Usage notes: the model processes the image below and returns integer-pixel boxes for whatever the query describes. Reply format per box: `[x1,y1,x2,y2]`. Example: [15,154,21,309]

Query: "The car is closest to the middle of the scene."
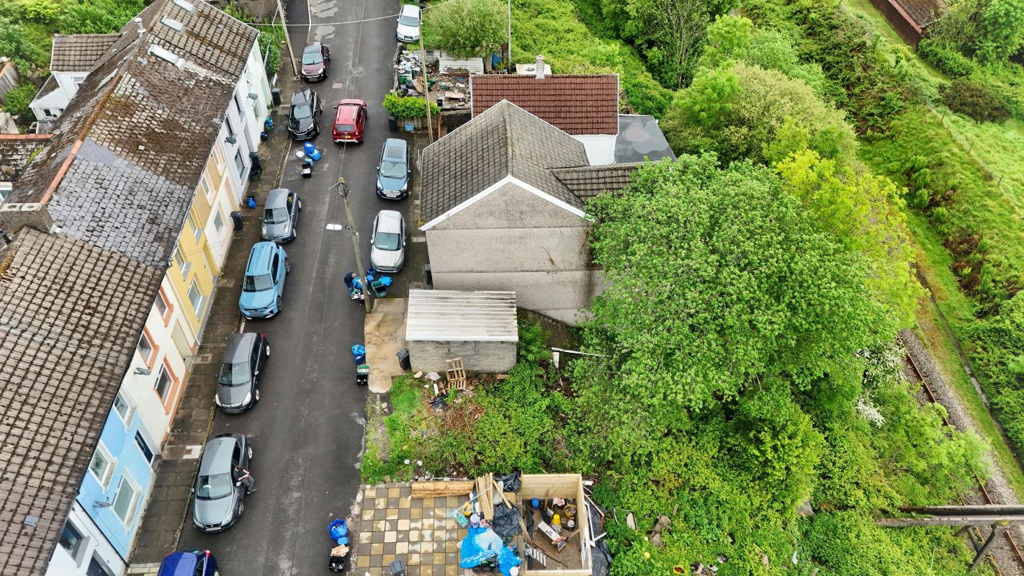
[367,212,407,272]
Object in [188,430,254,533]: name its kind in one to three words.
car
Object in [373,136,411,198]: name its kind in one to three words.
car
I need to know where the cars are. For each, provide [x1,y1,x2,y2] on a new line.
[300,44,332,81]
[367,212,407,272]
[239,244,290,319]
[188,430,254,533]
[373,136,411,198]
[394,6,420,41]
[214,334,270,414]
[286,87,324,139]
[333,102,367,145]
[259,187,301,242]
